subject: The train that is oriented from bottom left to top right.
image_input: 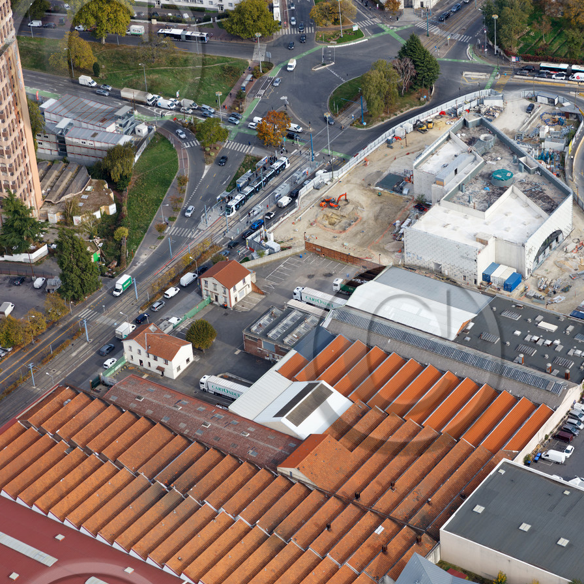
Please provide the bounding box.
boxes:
[226,158,289,213]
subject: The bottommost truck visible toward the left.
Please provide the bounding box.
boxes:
[199,375,255,397]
